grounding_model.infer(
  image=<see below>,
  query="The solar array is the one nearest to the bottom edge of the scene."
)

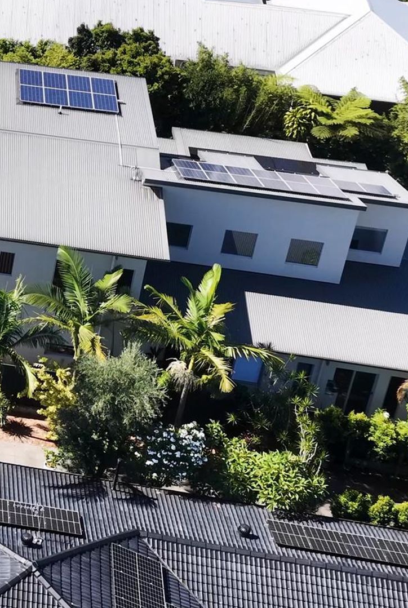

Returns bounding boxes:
[111,543,166,608]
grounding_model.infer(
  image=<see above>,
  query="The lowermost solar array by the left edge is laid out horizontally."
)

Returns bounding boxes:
[0,500,84,537]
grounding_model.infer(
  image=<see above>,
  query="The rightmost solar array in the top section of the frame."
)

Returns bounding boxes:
[361,183,397,198]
